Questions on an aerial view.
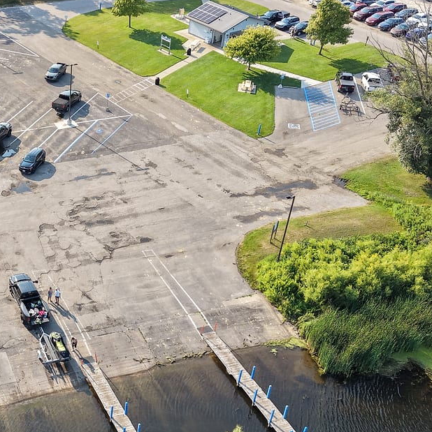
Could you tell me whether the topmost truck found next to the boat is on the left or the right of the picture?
left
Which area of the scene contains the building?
top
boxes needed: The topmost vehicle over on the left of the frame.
[46,62,67,80]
